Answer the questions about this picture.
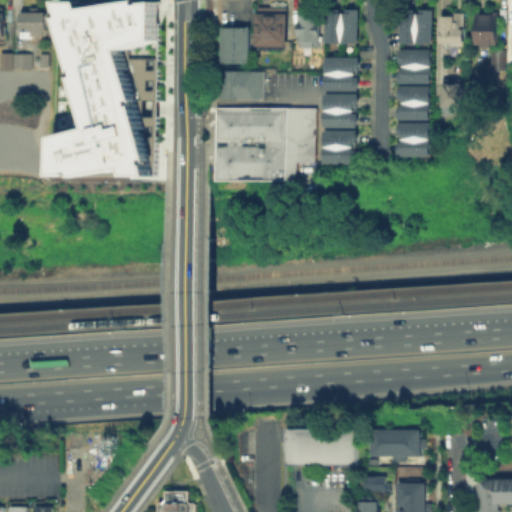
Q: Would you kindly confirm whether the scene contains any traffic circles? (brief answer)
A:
No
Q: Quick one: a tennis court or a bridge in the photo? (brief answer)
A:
bridge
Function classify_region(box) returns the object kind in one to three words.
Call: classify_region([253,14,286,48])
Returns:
house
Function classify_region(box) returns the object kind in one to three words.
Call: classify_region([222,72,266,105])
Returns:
building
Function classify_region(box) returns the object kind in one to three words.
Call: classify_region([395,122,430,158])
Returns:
house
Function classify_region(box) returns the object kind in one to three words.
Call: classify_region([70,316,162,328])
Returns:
train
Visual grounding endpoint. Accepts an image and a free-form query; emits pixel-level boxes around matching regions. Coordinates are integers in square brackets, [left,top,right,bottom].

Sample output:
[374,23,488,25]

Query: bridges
[158,193,210,436]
